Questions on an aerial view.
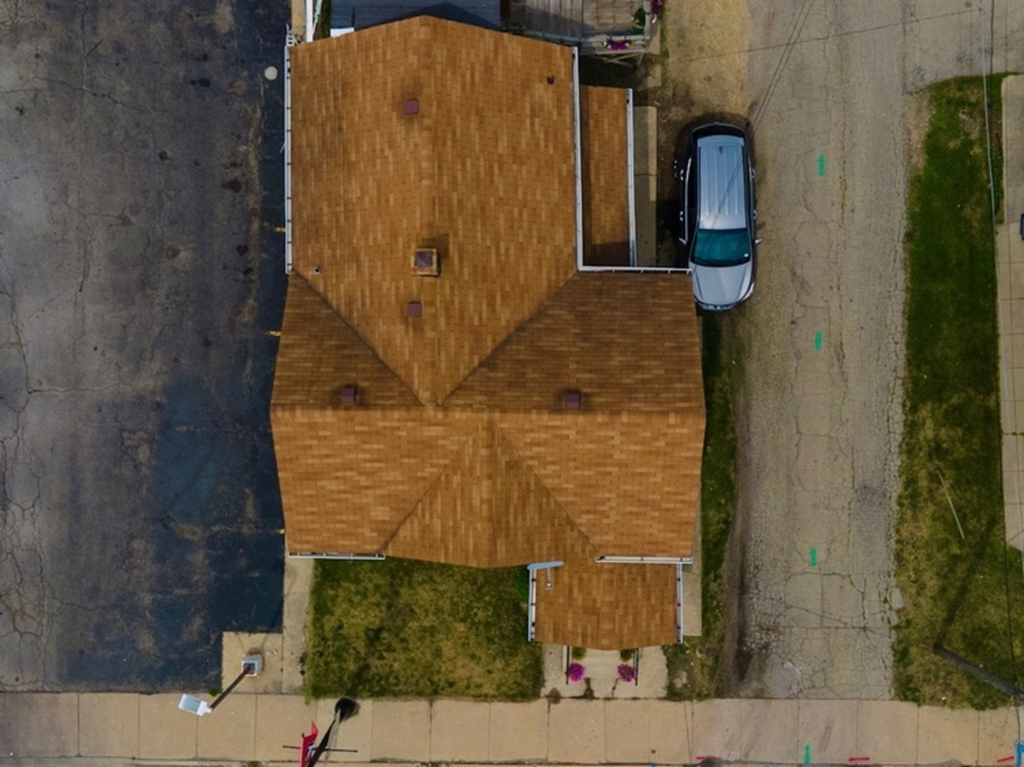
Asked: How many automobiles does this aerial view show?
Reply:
1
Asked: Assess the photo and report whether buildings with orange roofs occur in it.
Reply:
Yes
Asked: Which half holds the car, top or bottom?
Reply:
top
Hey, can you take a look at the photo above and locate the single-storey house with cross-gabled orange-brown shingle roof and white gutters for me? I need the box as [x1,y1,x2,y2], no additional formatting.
[270,16,707,650]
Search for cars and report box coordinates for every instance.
[675,119,762,314]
